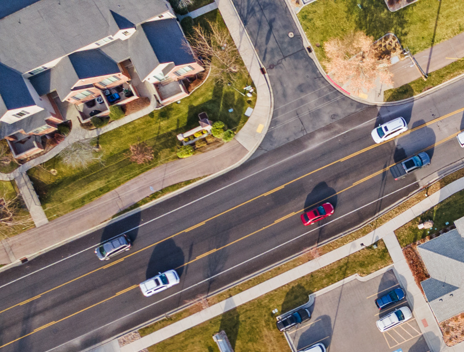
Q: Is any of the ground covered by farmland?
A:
No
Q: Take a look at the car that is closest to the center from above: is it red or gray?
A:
red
